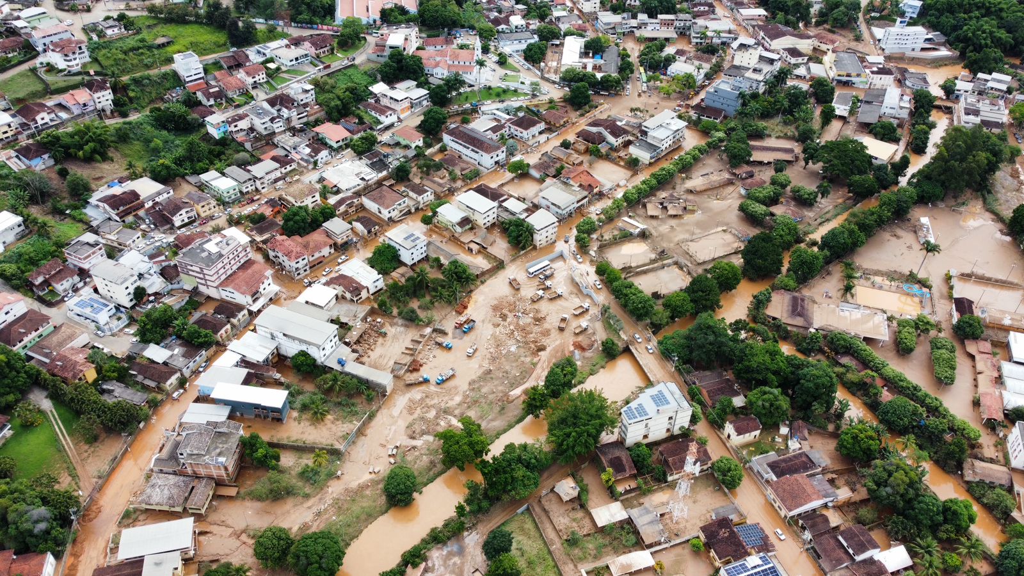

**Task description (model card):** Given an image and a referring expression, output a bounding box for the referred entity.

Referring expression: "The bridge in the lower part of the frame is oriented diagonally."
[605,316,692,388]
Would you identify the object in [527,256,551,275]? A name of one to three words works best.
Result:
vehicle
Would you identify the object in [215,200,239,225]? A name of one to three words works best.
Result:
house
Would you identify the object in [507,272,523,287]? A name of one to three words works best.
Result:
vehicle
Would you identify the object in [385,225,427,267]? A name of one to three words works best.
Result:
building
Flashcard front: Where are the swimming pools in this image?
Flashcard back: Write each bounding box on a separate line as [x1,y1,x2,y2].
[856,285,921,315]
